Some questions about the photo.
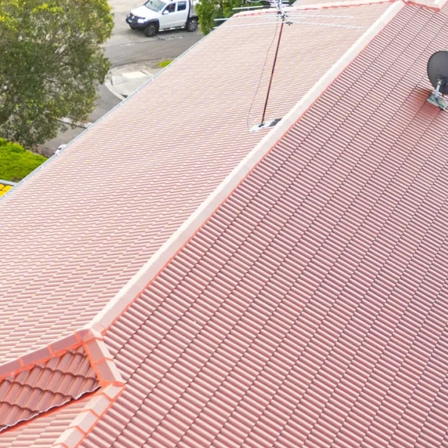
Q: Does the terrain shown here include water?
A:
No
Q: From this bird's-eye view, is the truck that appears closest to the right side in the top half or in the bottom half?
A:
top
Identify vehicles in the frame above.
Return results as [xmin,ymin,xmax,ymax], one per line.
[126,0,204,37]
[57,144,66,151]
